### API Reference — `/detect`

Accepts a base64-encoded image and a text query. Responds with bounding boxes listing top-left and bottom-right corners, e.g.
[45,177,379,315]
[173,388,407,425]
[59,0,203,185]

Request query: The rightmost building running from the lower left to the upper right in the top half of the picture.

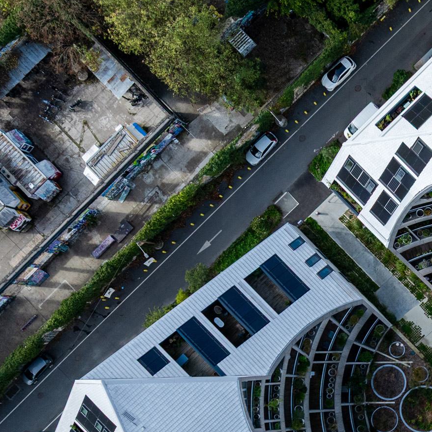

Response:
[82,123,151,186]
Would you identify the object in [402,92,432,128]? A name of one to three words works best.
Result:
solar array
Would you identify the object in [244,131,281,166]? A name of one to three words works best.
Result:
car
